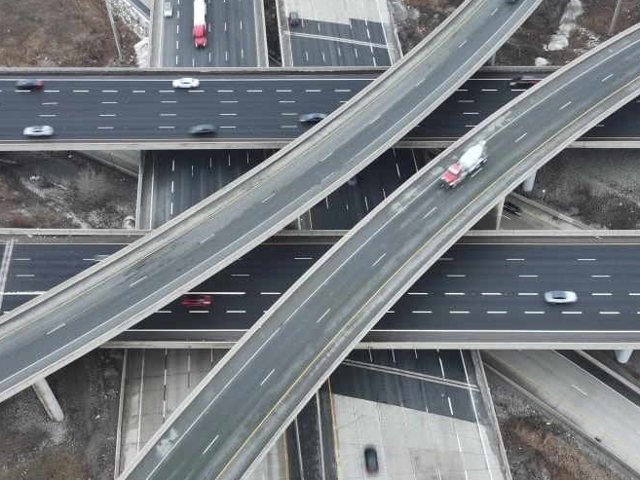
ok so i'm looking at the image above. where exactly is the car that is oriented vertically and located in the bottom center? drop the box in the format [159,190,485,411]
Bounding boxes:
[363,444,380,477]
